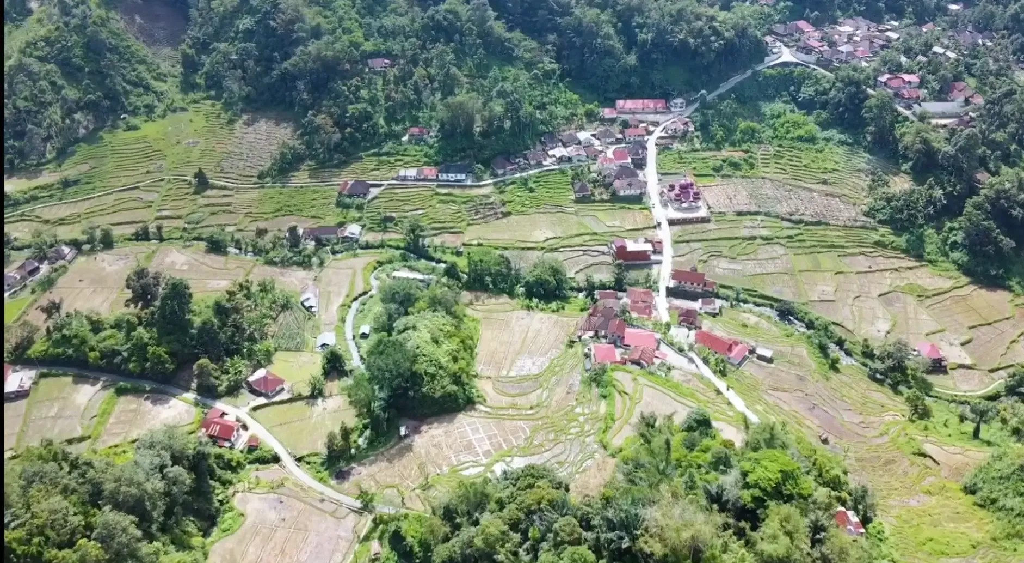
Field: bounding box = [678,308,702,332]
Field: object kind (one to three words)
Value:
house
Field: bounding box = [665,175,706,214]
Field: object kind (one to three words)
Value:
building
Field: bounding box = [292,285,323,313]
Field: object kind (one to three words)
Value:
barn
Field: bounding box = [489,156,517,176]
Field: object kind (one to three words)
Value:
house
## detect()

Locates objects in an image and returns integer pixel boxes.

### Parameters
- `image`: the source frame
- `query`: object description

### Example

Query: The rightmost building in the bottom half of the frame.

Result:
[916,342,954,372]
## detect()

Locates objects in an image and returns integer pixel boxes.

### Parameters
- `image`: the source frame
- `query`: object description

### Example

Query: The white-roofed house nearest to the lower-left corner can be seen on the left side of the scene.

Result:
[0,369,38,401]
